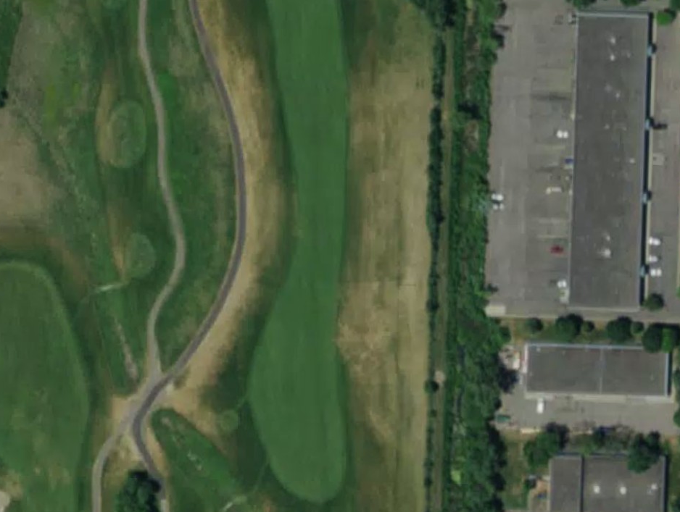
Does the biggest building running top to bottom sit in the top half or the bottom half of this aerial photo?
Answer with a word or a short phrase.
top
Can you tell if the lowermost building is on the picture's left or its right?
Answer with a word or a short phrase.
right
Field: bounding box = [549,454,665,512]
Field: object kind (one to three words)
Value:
building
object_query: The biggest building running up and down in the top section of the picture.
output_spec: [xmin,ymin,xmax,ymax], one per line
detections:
[566,14,655,312]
